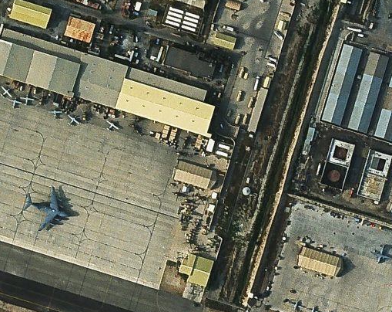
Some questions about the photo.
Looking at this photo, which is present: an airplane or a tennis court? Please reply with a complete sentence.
The image shows an airplane.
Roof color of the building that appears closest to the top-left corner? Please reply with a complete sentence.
From above, the roof of the building that appears closest to the top-left corner looks yellow.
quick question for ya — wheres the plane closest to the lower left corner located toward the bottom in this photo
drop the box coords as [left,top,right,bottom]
[23,185,69,229]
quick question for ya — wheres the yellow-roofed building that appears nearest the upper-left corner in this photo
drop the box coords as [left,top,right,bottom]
[8,0,52,28]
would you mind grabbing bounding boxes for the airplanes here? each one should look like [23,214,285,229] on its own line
[0,86,12,98]
[23,185,69,229]
[378,244,392,262]
[47,107,62,119]
[67,113,79,126]
[20,95,35,105]
[7,97,22,109]
[106,119,118,131]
